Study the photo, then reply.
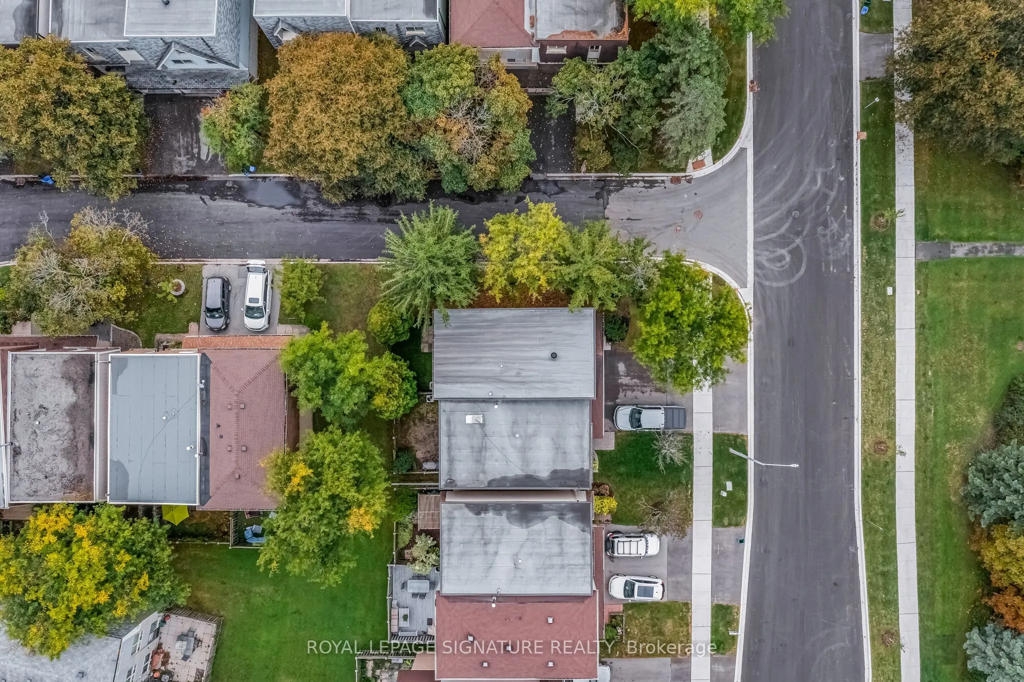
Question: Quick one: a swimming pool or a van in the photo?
van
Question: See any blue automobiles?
No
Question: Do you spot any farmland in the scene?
No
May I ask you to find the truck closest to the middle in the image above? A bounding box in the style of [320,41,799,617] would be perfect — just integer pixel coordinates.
[610,404,684,433]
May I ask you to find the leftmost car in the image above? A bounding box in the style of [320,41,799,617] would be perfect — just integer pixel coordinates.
[202,276,232,331]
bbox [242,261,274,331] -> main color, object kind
white van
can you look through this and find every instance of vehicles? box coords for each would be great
[242,261,274,331]
[604,531,659,561]
[202,276,232,331]
[605,574,664,605]
[610,404,684,433]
